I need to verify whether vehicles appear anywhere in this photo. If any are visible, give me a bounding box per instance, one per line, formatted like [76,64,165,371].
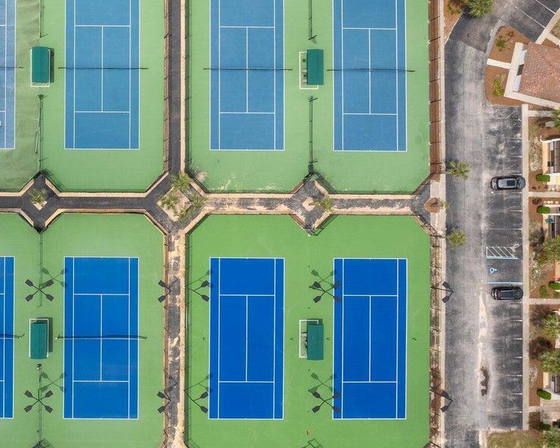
[490,175,524,190]
[490,285,523,301]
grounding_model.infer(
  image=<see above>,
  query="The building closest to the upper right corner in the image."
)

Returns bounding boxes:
[511,42,560,106]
